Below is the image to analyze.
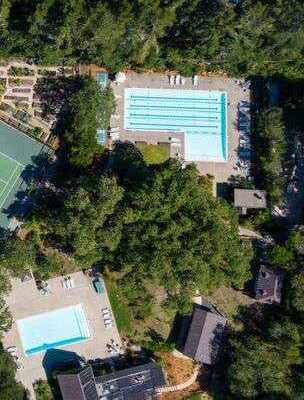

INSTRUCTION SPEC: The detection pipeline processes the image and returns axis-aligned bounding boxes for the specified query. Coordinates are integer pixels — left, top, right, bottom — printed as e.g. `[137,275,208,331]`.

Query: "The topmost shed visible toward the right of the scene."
[229,188,266,214]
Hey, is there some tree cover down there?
Yes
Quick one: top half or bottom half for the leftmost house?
bottom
